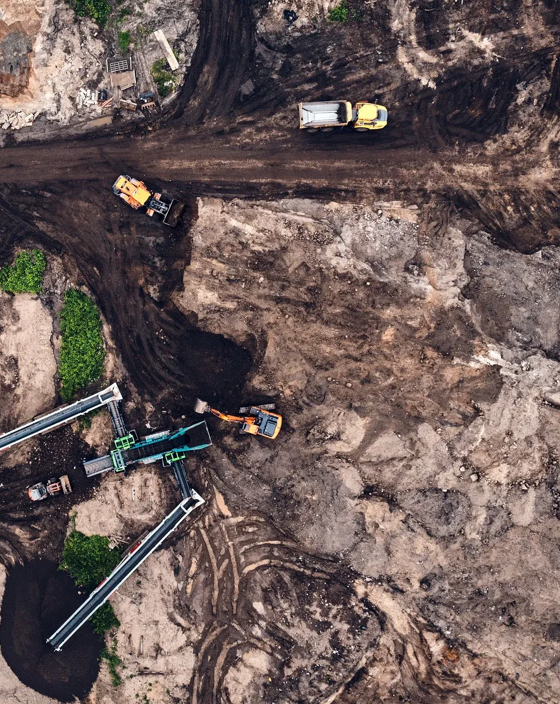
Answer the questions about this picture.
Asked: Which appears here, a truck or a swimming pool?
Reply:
truck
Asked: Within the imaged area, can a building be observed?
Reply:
No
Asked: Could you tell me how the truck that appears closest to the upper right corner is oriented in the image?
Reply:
horizontally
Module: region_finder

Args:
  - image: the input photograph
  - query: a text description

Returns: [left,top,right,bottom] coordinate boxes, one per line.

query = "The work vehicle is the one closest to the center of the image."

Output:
[193,400,282,439]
